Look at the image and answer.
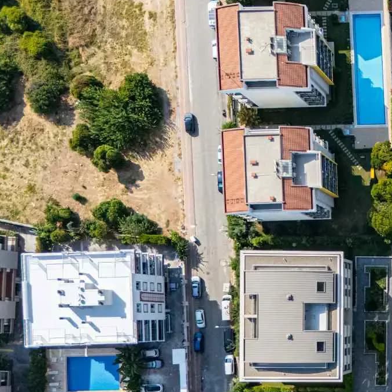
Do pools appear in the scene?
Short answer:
Yes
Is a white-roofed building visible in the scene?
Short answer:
Yes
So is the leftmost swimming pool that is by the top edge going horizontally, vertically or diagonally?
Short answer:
vertically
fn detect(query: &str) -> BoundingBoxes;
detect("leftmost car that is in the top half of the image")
[183,112,197,134]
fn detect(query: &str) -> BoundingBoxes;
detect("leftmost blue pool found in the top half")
[351,10,386,127]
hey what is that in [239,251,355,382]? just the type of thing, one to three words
building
